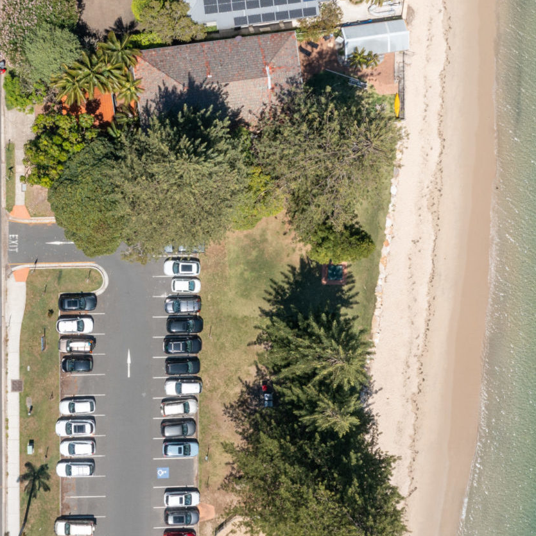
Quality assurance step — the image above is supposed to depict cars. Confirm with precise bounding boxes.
[56,517,96,535]
[161,419,197,437]
[60,336,99,355]
[57,316,95,335]
[61,356,95,374]
[60,397,96,415]
[170,276,201,294]
[58,440,95,457]
[162,440,199,457]
[167,317,204,335]
[161,398,199,417]
[164,258,202,278]
[163,488,200,506]
[57,459,95,479]
[163,507,200,525]
[164,357,200,376]
[164,378,202,397]
[60,294,98,312]
[57,418,95,437]
[163,337,201,356]
[164,297,201,314]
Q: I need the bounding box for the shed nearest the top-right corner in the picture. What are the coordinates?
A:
[339,19,409,61]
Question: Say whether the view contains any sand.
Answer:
Yes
